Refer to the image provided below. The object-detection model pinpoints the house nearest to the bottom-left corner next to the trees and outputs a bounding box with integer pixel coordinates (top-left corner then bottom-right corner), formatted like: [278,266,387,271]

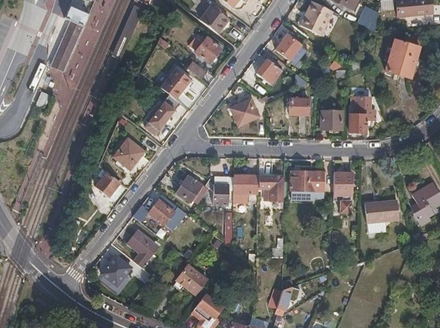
[96,247,133,290]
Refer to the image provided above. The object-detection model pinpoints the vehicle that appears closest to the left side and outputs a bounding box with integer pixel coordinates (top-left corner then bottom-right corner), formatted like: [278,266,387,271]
[28,62,46,90]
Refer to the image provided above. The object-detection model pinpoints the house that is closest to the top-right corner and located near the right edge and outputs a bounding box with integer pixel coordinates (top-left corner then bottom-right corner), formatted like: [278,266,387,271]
[394,0,440,18]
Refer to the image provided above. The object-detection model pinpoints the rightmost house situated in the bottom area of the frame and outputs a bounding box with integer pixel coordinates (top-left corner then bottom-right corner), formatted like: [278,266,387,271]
[409,182,440,222]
